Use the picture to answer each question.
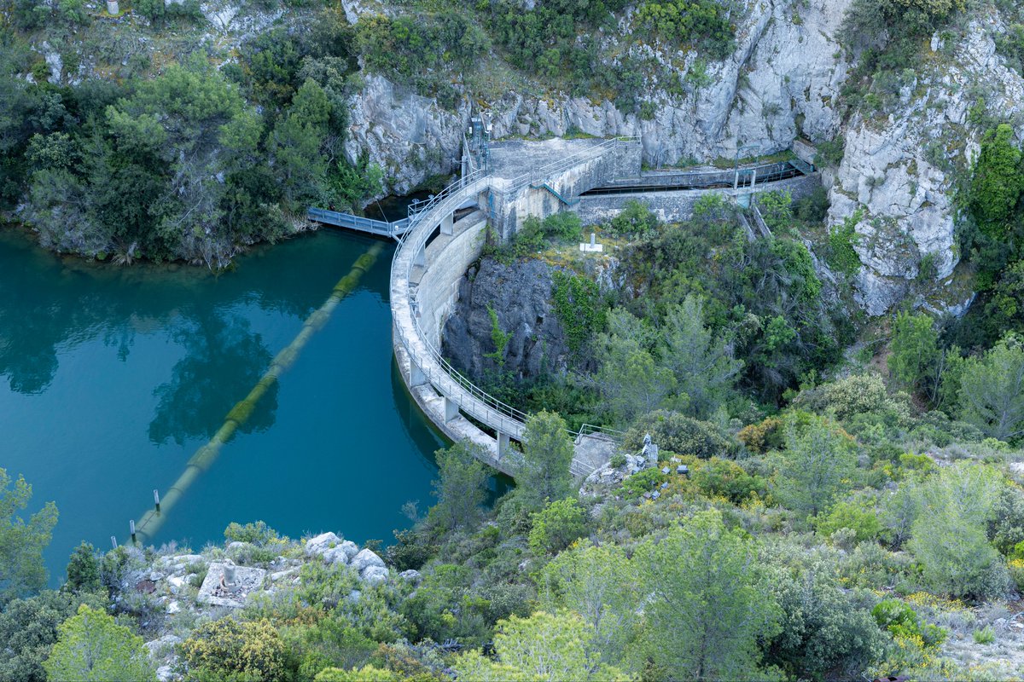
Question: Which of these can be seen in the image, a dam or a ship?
dam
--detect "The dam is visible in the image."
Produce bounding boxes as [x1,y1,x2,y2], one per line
[390,207,533,534]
